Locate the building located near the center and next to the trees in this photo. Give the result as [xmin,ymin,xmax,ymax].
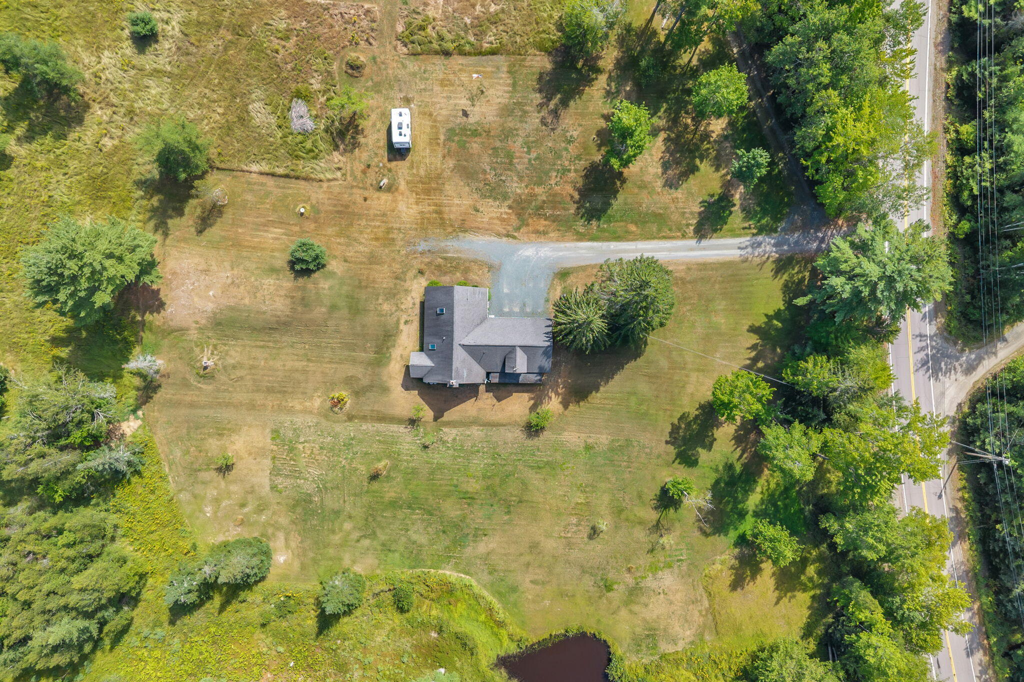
[410,285,553,387]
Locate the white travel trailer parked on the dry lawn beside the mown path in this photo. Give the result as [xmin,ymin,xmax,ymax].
[392,109,412,156]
